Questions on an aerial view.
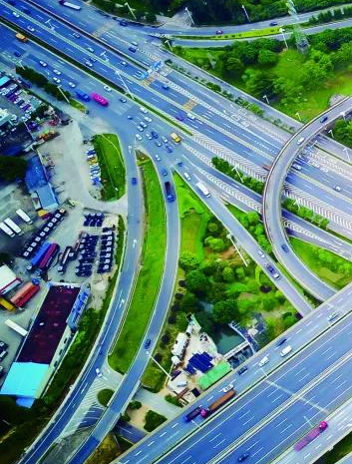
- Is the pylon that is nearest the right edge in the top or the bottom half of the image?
top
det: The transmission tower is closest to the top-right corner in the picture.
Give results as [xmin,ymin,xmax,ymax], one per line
[281,0,311,56]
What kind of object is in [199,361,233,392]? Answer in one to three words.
shed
